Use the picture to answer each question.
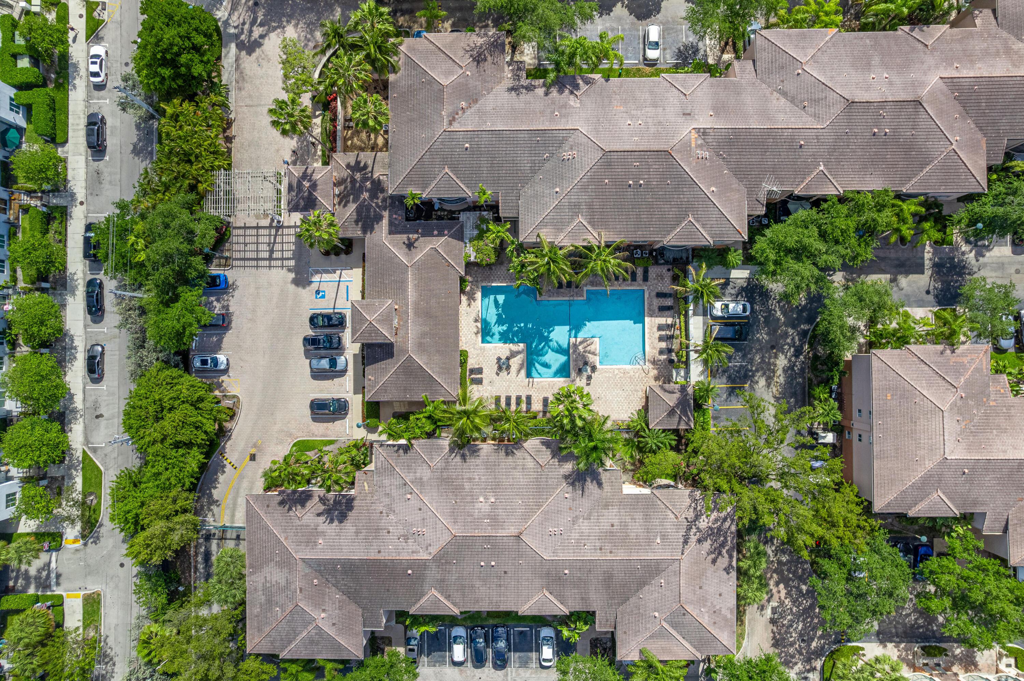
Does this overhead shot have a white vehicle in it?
Yes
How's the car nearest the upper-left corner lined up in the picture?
vertically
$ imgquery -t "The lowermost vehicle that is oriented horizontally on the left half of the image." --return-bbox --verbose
[310,397,349,416]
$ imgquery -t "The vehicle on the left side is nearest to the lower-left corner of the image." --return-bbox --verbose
[85,342,107,380]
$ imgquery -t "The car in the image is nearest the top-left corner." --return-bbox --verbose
[88,46,109,86]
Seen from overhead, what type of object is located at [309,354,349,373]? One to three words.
car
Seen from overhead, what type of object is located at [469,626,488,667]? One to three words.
car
